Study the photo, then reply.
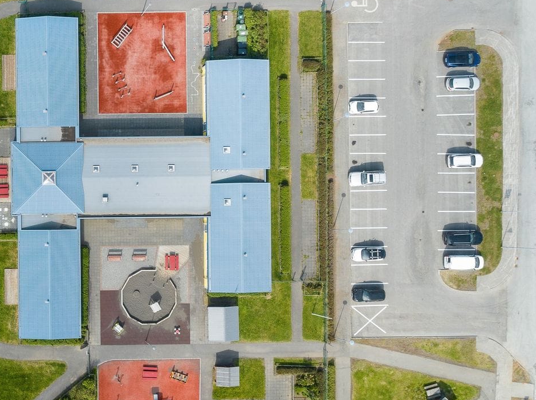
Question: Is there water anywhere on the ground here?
No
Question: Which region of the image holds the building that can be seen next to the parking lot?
left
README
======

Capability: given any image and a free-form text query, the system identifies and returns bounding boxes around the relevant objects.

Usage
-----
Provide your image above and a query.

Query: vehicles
[442,49,480,67]
[441,230,483,247]
[348,97,379,114]
[351,286,386,303]
[446,152,483,169]
[350,246,387,263]
[445,75,479,91]
[348,169,388,186]
[442,254,484,272]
